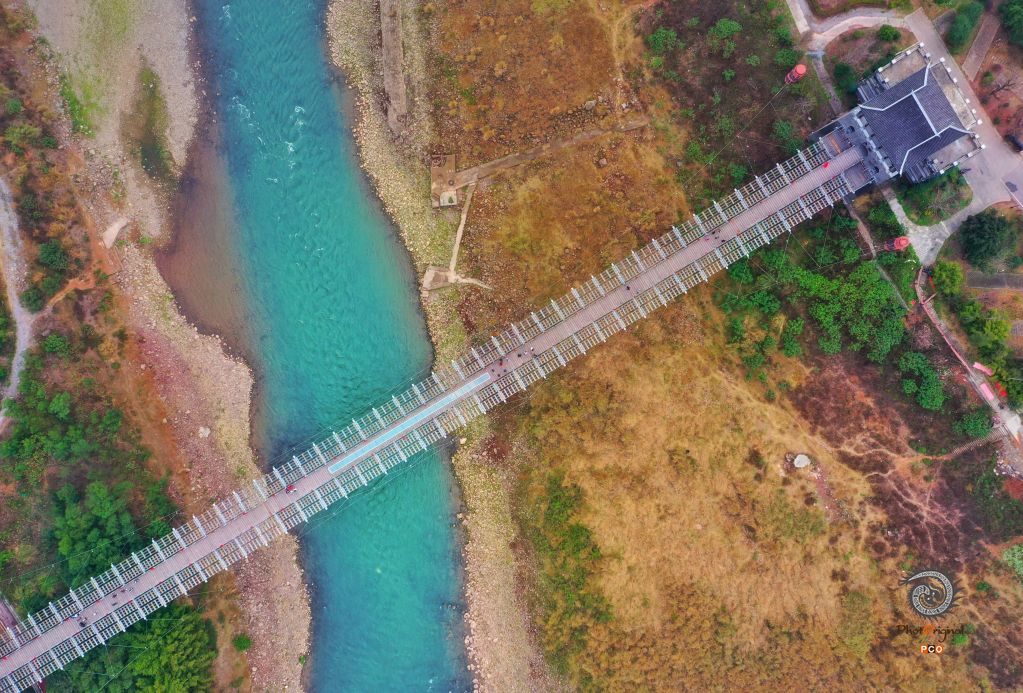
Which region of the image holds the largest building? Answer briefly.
top right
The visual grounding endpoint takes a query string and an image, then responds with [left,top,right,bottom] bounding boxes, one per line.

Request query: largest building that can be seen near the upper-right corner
[838,42,985,188]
